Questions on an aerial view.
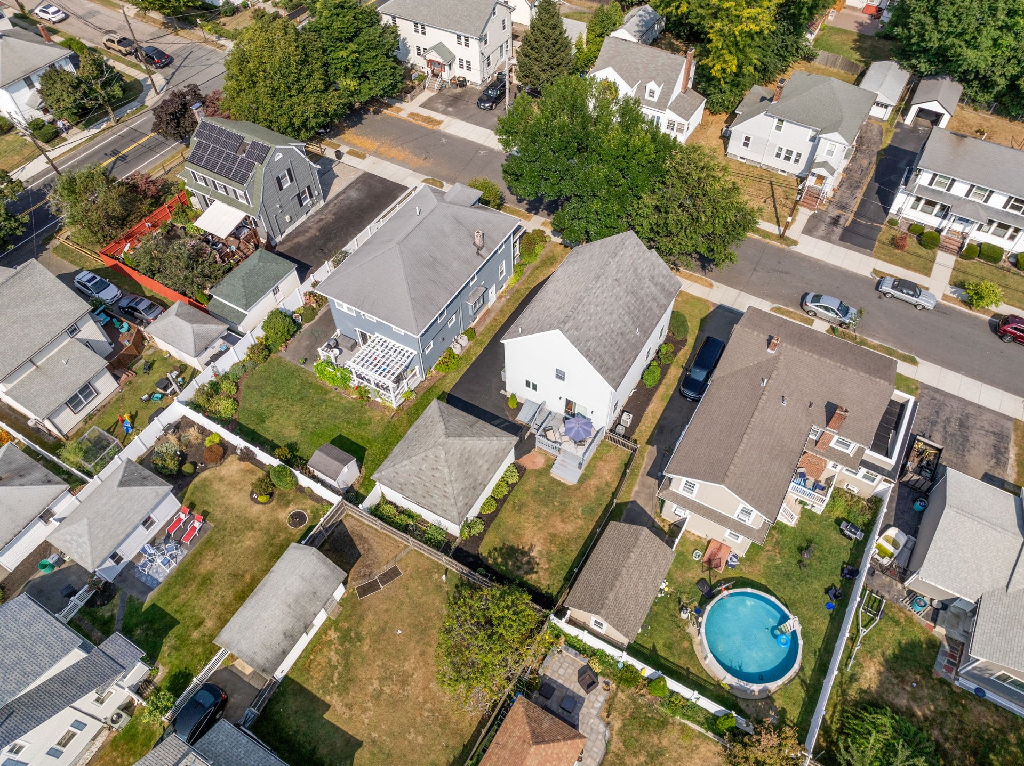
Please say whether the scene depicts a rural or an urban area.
urban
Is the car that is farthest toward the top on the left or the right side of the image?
left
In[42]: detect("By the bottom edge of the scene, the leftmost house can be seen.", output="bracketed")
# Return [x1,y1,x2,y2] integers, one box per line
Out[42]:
[0,575,153,766]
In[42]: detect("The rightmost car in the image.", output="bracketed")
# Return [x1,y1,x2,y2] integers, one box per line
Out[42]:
[992,313,1024,346]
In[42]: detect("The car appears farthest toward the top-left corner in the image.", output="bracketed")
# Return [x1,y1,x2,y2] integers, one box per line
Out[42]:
[35,1,70,24]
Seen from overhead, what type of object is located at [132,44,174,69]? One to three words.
car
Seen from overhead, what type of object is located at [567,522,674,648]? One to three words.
building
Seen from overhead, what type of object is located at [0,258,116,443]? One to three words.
house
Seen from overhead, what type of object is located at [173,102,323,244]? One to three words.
house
